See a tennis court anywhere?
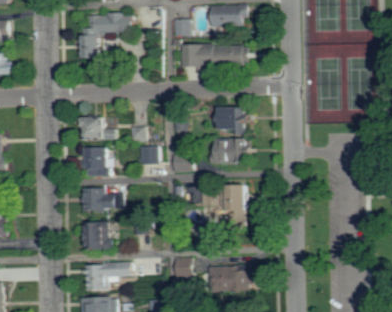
Yes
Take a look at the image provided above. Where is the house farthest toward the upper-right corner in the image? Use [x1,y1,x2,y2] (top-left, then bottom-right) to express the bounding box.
[208,4,248,27]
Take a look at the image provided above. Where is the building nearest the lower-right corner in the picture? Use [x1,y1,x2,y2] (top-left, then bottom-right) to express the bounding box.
[208,266,252,292]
